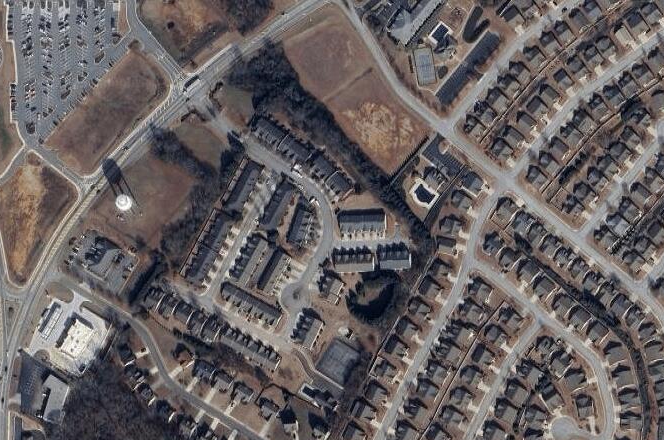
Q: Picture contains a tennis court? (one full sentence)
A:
Yes, the photo shows a tennis court.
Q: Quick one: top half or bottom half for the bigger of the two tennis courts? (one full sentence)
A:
The bottom half of the photo is where the bigger of the two tennis courts is.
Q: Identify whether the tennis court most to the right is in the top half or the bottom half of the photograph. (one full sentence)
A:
You can find the tennis court most to the right in the top half.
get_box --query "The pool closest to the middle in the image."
[408,177,441,210]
